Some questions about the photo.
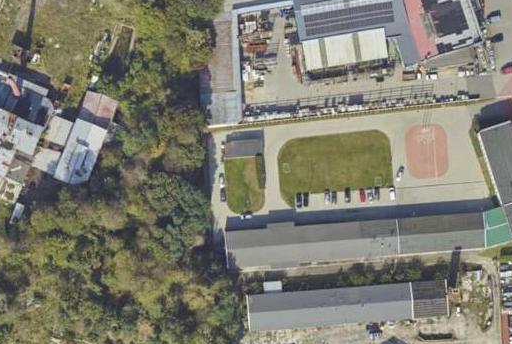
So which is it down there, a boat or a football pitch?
football pitch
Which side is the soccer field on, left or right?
right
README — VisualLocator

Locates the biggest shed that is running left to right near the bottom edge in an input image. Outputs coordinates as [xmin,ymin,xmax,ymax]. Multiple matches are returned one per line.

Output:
[248,282,414,331]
